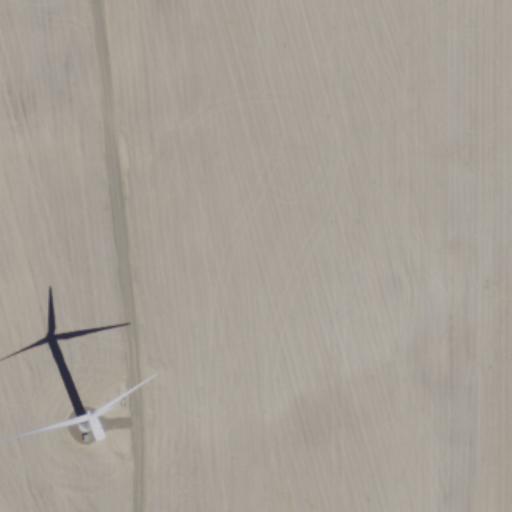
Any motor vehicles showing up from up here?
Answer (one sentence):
No, no motor vehicle is visible in the scene.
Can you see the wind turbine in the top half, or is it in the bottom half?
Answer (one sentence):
The bottom half of the photo is where the wind turbine is.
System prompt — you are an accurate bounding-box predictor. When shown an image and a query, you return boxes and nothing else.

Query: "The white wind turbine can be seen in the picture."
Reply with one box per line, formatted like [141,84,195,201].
[0,376,160,441]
